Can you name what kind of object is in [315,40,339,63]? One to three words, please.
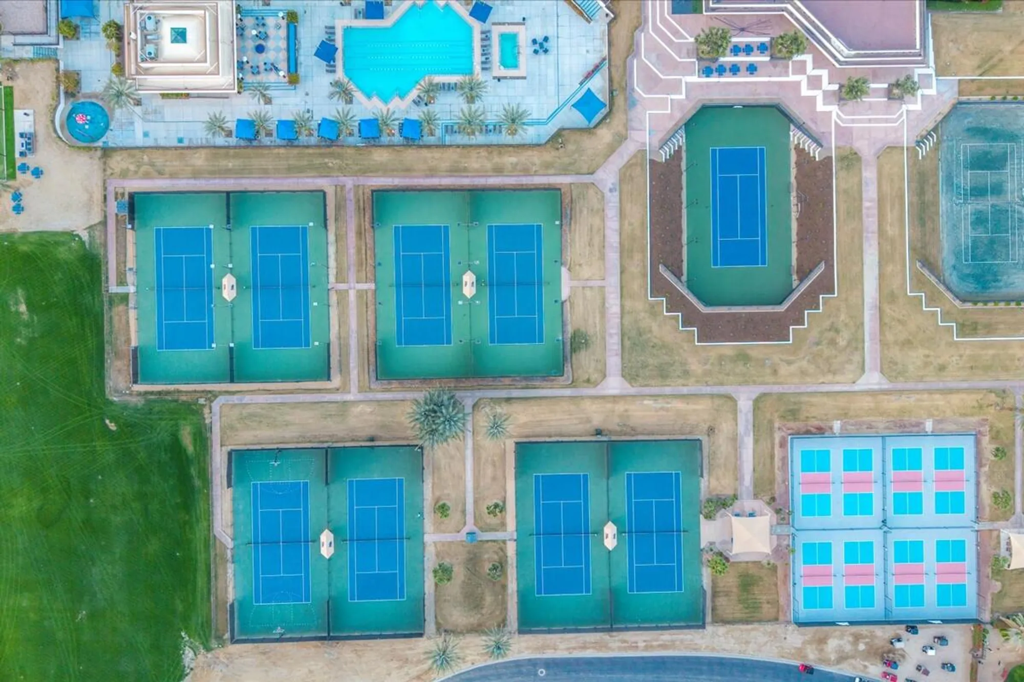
umbrella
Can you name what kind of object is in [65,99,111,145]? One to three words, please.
swimming pool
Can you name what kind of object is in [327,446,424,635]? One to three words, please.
tennis court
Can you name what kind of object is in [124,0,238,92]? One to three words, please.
building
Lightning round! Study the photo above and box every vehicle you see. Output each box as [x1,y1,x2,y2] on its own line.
[881,669,898,682]
[915,663,932,678]
[940,660,958,674]
[885,658,902,673]
[853,677,867,682]
[798,662,814,676]
[923,643,940,658]
[904,625,921,638]
[932,635,950,649]
[891,637,908,652]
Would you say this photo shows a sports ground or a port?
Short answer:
sports ground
